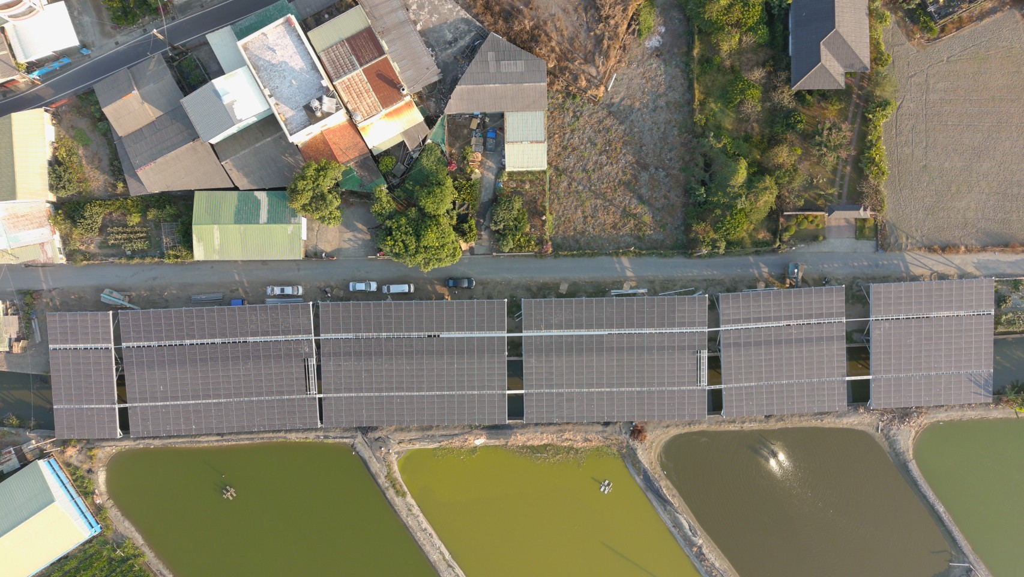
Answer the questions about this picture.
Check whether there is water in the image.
Yes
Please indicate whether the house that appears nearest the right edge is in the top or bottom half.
top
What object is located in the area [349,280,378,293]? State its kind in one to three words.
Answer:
vehicle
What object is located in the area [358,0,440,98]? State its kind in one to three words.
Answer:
house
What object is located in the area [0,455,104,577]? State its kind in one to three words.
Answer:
building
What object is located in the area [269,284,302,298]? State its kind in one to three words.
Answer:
car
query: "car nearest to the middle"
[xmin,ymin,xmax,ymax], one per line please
[446,277,475,290]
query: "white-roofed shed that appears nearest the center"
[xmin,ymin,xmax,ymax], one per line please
[505,111,547,174]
